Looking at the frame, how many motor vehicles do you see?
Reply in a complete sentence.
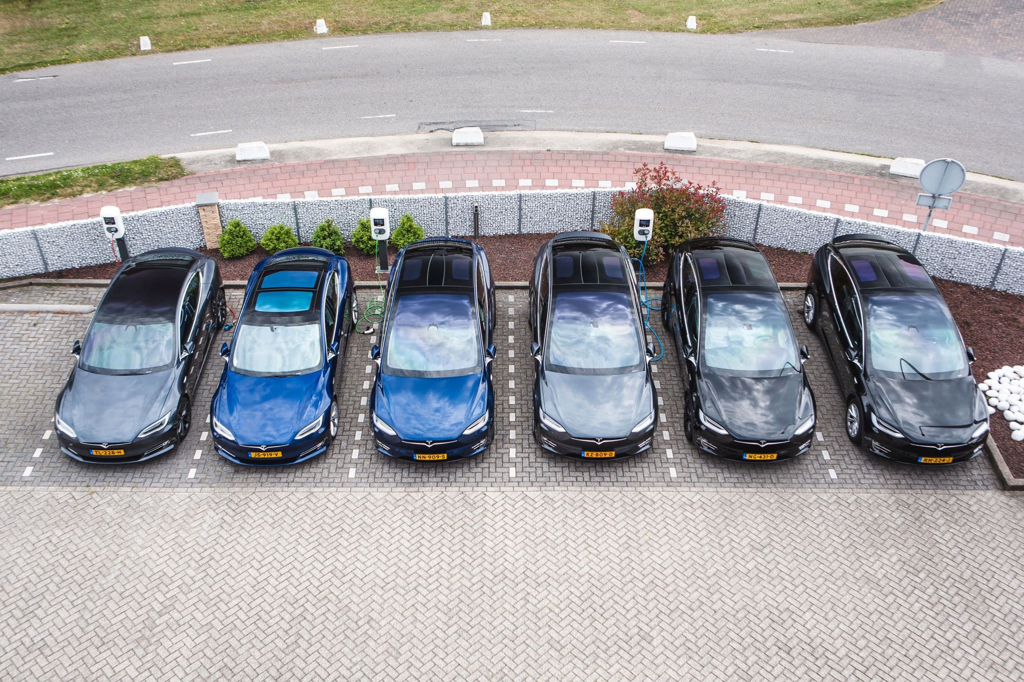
The photo contains 6 motor vehicles.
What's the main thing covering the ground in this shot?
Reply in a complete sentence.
Most of the picture is covered by paved ground.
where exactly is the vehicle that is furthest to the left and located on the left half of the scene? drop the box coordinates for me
[56,245,227,467]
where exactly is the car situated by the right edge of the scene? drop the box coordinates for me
[806,232,983,466]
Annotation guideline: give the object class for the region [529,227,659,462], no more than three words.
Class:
car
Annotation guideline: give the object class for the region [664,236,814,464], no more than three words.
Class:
car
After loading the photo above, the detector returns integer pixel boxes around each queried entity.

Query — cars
[529,227,659,462]
[213,246,358,468]
[806,232,983,466]
[664,236,814,464]
[56,245,227,467]
[368,235,499,465]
